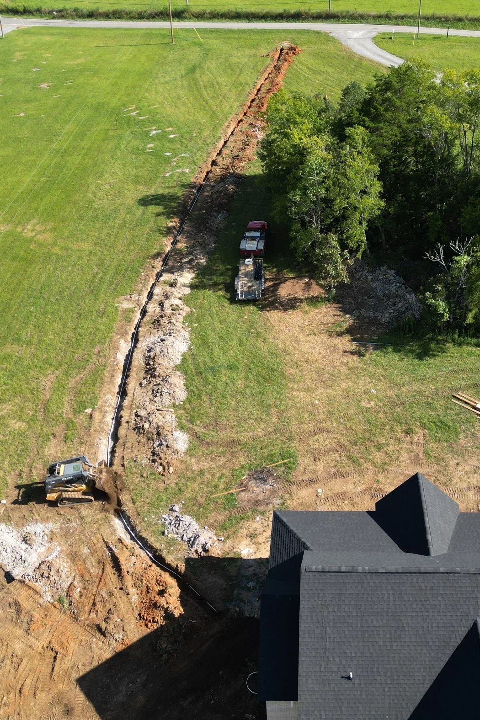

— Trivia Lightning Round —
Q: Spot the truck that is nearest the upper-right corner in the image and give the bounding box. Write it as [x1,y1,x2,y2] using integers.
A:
[240,221,270,256]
